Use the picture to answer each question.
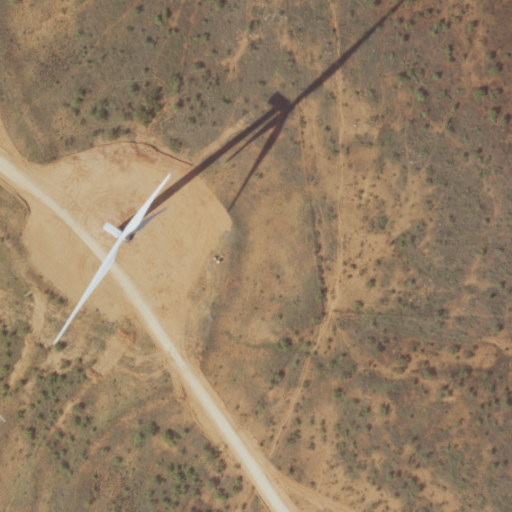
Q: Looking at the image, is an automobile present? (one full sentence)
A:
No, I find no automobile anywhere in the image.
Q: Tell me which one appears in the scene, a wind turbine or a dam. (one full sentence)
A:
I can see a wind turbine in this picture.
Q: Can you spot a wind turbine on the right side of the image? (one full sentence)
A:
No, the scene shows no wind turbine on the right side of the image.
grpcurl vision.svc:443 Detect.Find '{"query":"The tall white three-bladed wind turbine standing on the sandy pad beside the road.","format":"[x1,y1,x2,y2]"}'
[54,174,169,344]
